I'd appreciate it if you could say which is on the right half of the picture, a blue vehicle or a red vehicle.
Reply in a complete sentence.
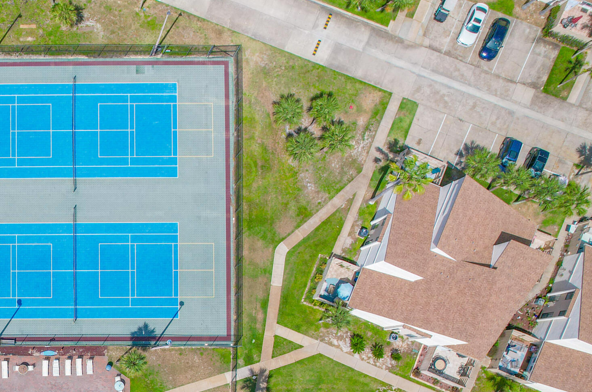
It is a blue vehicle that can be seen on the right half of the picture.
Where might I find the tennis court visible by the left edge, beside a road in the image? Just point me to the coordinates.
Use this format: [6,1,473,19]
[0,56,236,346]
